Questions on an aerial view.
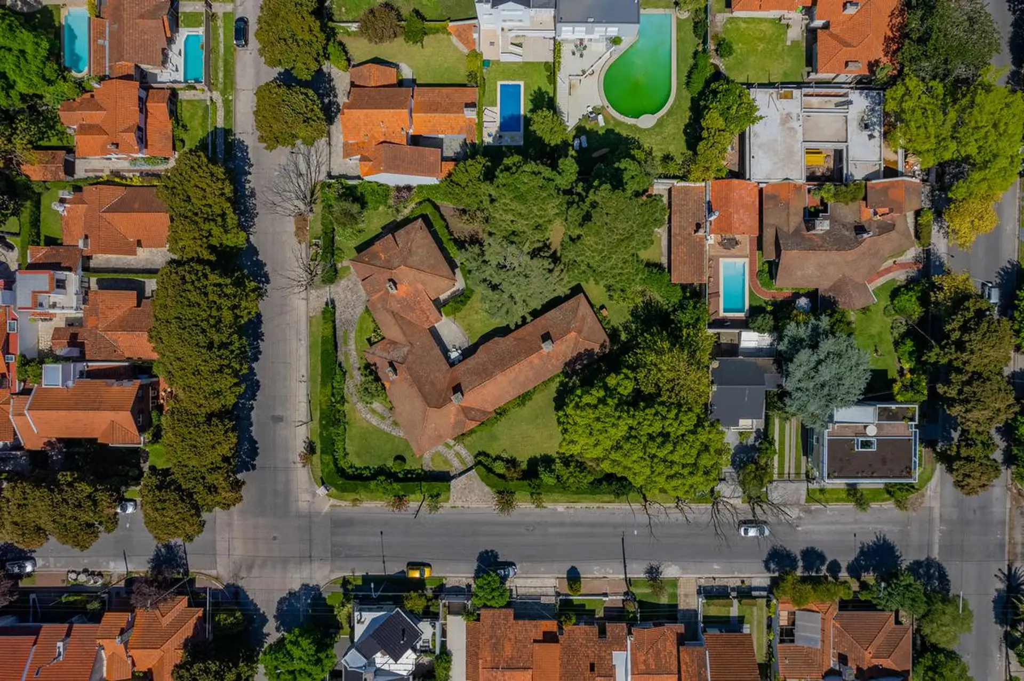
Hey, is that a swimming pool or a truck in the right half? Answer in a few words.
swimming pool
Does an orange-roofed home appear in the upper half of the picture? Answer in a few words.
Yes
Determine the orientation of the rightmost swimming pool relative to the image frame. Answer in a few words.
from top to bottom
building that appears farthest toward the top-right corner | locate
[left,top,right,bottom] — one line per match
[802,0,903,78]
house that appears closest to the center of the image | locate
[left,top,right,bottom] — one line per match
[350,218,610,458]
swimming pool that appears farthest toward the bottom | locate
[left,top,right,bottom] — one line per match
[719,258,748,315]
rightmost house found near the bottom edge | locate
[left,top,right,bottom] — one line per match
[823,605,912,681]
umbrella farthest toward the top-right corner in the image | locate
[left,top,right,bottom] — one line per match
[792,295,810,310]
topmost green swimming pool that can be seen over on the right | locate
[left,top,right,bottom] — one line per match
[599,9,676,122]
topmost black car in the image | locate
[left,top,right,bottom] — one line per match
[234,17,250,48]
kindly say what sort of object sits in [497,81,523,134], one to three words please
swimming pool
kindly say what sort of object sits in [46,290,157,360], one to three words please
house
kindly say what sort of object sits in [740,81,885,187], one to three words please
building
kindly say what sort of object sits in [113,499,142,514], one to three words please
car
